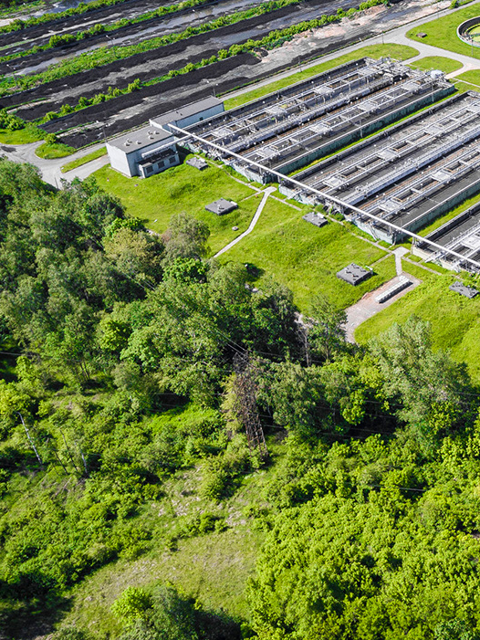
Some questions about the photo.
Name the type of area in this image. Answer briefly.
industrial area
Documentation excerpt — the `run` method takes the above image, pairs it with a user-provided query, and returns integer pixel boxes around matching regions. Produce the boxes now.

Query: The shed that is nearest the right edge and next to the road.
[148,97,224,138]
